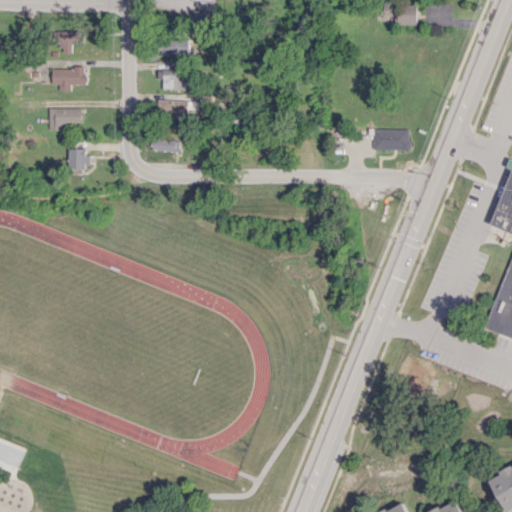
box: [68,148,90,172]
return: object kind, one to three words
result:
house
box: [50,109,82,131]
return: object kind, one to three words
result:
house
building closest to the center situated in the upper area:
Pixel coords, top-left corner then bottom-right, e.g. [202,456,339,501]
[152,138,182,153]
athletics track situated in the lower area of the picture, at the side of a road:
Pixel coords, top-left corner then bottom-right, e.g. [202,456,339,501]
[0,210,271,480]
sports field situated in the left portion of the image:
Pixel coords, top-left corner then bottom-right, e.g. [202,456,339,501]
[0,227,254,438]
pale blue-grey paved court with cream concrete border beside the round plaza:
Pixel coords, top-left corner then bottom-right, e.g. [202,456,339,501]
[0,438,27,478]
